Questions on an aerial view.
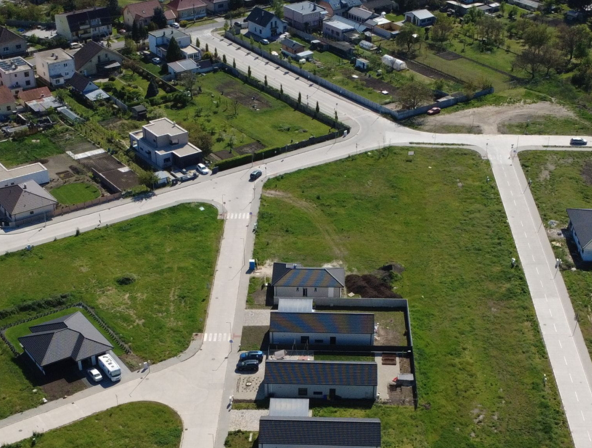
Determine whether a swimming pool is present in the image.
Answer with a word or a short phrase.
No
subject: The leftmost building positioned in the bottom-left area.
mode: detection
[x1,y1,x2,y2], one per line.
[22,309,114,376]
